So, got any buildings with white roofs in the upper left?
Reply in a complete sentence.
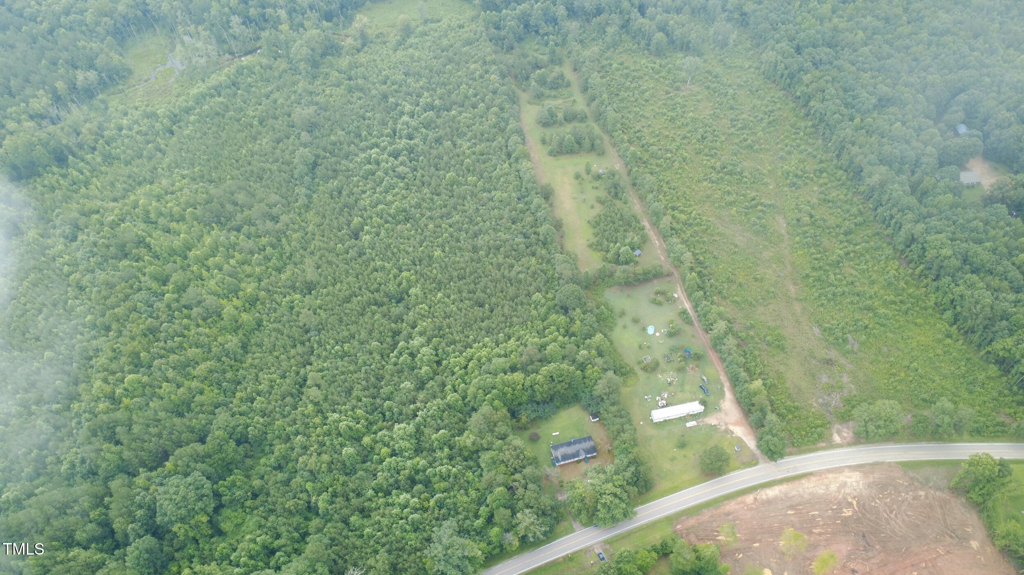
No, no building with a white roof appears in the upper left.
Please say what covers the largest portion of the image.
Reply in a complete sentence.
The largest share of the image is taken up by trees.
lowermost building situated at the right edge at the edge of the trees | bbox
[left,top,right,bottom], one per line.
[959,167,985,186]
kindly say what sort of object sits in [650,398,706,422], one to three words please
house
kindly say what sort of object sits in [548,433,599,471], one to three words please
house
